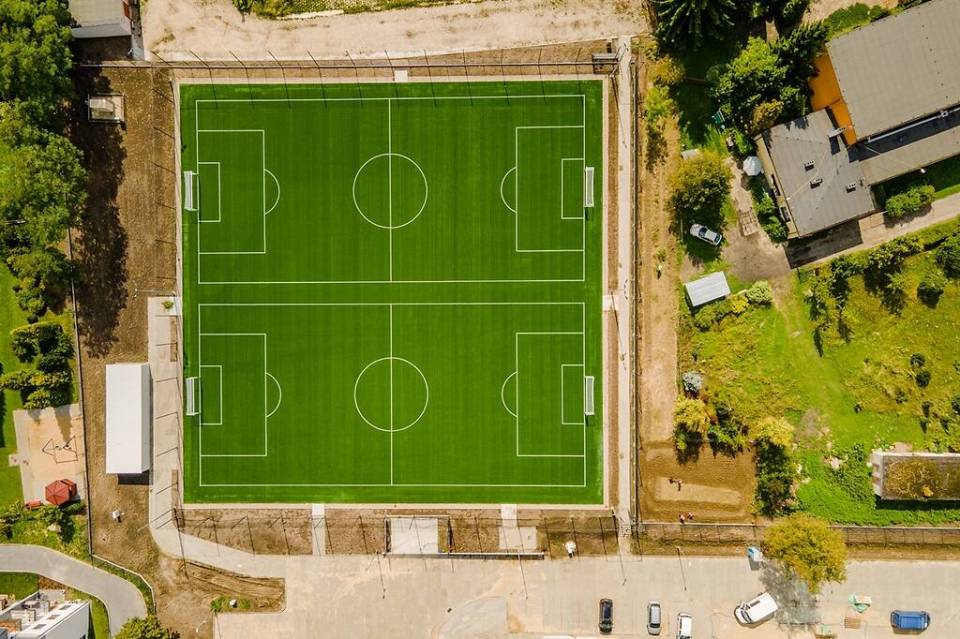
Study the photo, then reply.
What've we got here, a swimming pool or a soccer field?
soccer field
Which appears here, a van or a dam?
van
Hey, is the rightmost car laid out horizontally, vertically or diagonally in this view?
horizontally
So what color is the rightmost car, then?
blue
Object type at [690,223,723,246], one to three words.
car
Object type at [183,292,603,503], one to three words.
soccer field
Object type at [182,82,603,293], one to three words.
soccer field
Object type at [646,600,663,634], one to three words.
car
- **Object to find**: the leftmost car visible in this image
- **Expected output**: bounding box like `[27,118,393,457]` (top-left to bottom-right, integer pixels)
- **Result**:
[598,597,614,632]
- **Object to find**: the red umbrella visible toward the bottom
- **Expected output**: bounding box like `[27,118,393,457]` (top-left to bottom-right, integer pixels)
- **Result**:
[47,479,73,504]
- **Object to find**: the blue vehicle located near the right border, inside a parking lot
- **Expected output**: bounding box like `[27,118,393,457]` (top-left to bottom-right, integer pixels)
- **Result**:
[890,610,927,630]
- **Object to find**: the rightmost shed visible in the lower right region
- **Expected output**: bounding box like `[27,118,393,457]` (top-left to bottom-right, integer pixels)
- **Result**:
[870,452,960,499]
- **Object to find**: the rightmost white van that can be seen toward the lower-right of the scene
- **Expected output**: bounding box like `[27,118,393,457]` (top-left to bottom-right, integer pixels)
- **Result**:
[737,593,776,624]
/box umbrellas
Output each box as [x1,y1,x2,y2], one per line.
[47,479,73,504]
[743,157,760,174]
